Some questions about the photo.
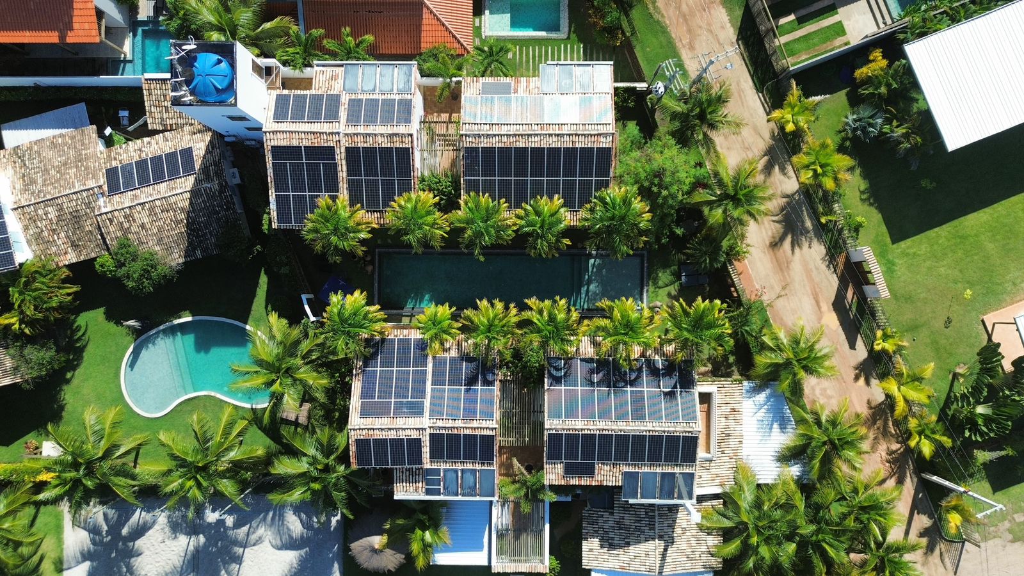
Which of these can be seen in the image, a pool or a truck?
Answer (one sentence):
Of the two, only a pool appears.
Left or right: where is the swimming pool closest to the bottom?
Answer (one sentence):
You can find the swimming pool closest to the bottom on the left side of the picture.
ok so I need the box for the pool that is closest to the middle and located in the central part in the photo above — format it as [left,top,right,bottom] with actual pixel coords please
[375,250,647,313]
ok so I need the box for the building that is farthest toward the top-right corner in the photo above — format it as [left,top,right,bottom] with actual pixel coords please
[886,0,1024,158]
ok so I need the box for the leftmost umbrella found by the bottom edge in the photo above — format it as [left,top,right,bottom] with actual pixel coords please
[350,523,406,576]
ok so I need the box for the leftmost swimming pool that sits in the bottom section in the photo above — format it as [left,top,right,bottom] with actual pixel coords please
[122,318,283,415]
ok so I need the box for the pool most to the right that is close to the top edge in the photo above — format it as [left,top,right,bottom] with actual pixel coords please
[892,0,931,20]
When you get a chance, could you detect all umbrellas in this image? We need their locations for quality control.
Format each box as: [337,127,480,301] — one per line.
[350,523,406,576]
[318,276,357,304]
